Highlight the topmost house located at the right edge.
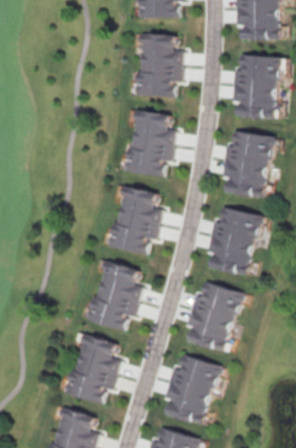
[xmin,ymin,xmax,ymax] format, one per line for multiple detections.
[234,0,296,41]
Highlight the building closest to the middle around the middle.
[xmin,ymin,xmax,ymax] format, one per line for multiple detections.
[104,186,170,254]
